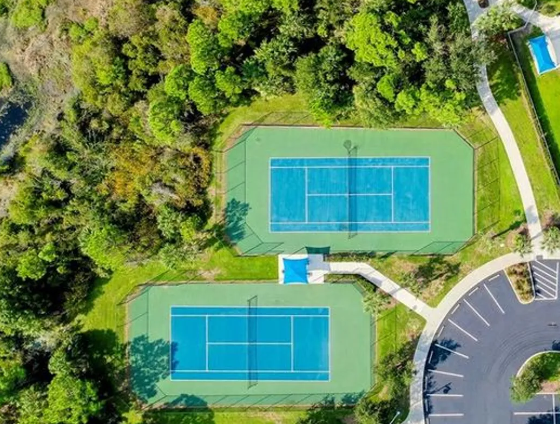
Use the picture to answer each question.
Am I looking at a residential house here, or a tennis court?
tennis court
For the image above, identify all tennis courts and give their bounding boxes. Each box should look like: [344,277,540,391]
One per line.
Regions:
[226,127,473,255]
[129,283,372,407]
